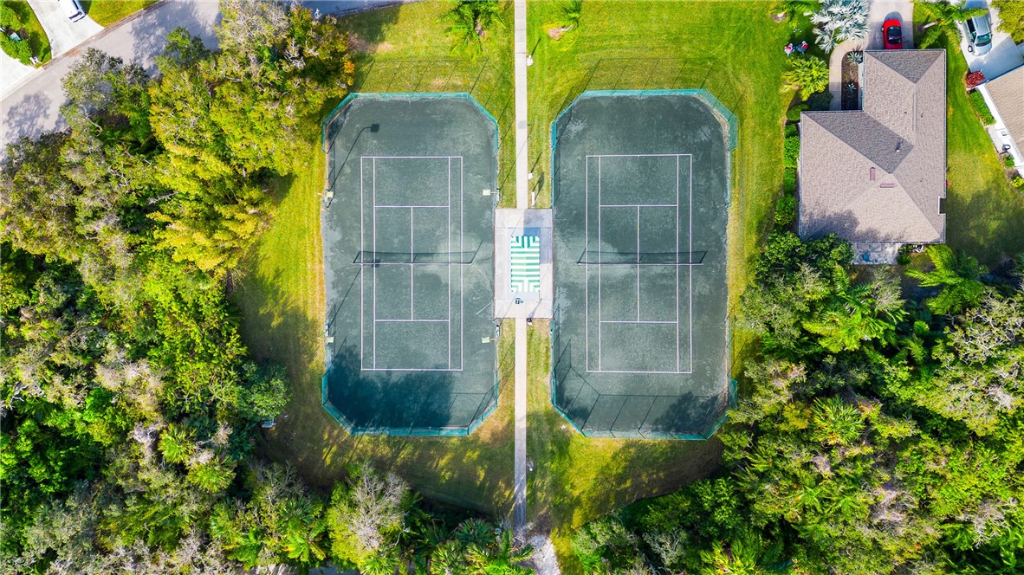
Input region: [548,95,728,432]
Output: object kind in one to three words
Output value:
tennis court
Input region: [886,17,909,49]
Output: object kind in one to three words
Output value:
car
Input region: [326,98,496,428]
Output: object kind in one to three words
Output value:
tennis court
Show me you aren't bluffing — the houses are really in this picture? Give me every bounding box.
[975,65,1024,200]
[790,49,946,243]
